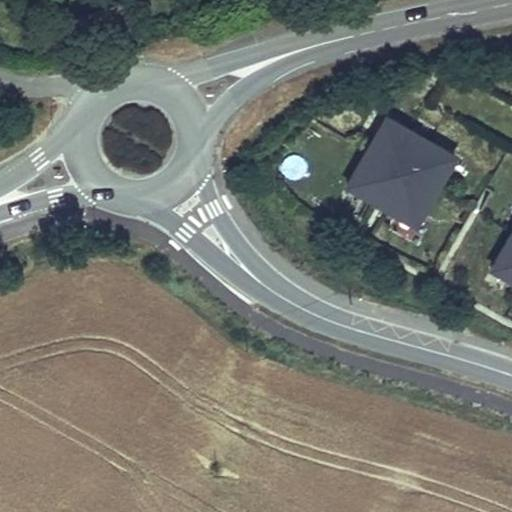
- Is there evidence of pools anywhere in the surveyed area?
Yes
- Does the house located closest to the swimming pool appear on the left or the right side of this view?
right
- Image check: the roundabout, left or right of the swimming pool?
to the left of it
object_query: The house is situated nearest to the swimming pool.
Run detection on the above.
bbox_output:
[345,116,457,228]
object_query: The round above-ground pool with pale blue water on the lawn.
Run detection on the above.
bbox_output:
[276,152,310,182]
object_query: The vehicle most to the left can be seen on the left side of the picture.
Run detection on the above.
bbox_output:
[8,201,31,214]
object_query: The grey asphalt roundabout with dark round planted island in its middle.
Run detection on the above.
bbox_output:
[61,62,215,216]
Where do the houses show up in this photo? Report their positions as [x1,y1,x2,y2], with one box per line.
[489,232,512,282]
[345,116,457,228]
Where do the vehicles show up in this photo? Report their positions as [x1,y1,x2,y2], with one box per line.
[8,201,31,214]
[405,8,427,20]
[92,190,114,200]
